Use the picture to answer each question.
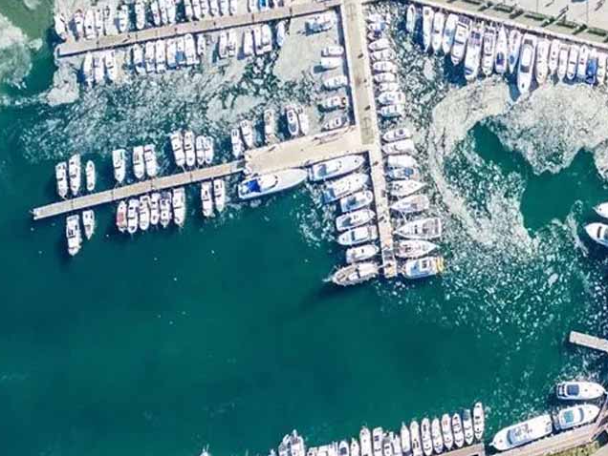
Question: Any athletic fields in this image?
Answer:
No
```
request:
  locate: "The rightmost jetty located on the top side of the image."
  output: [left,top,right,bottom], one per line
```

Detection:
[342,0,400,279]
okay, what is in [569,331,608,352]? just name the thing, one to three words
pier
